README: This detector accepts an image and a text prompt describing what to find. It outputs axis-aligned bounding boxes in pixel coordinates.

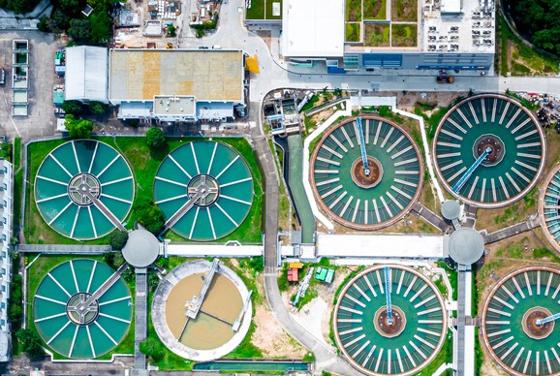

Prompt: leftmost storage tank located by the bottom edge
[33,259,134,358]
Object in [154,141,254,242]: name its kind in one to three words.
storage tank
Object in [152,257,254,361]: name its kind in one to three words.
storage tank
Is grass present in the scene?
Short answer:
Yes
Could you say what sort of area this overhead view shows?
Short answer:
industrial area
